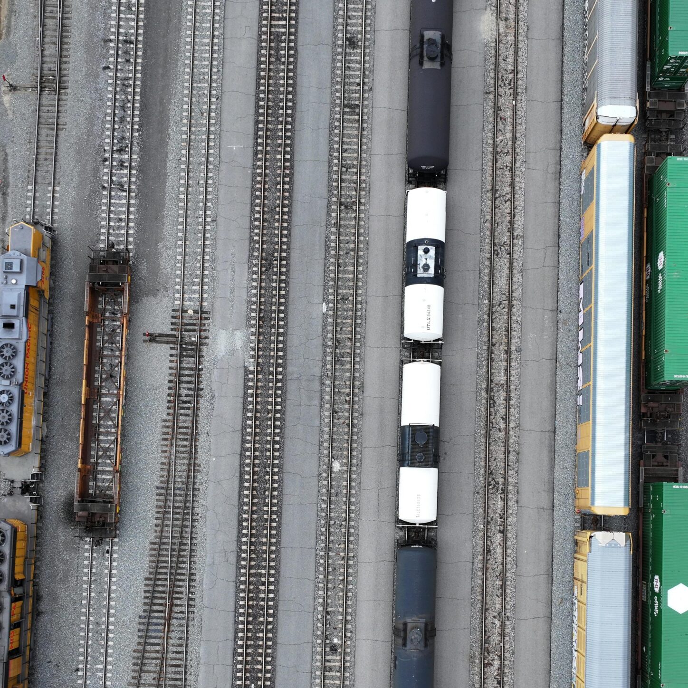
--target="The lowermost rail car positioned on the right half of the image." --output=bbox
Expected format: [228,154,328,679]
[392,530,437,688]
